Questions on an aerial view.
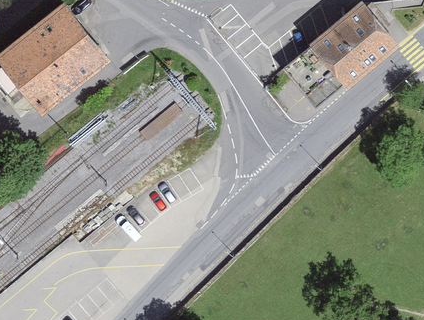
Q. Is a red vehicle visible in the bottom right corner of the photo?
No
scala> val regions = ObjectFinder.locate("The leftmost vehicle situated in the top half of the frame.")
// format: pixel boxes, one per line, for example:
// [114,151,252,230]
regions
[70,0,94,14]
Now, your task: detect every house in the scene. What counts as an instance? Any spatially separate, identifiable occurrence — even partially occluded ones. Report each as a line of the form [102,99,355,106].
[310,0,402,89]
[0,2,111,116]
